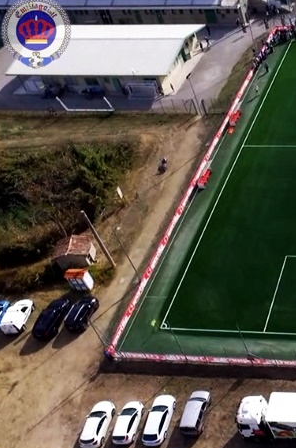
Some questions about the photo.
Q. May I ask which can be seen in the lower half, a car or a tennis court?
car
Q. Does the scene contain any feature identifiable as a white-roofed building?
Yes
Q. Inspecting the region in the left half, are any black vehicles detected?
Yes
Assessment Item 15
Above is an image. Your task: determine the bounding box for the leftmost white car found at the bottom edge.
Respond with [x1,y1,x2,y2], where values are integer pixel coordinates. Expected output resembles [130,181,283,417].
[77,402,116,448]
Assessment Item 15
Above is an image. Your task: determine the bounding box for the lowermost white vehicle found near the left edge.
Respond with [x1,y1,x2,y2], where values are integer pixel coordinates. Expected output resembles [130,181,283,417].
[0,301,34,335]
